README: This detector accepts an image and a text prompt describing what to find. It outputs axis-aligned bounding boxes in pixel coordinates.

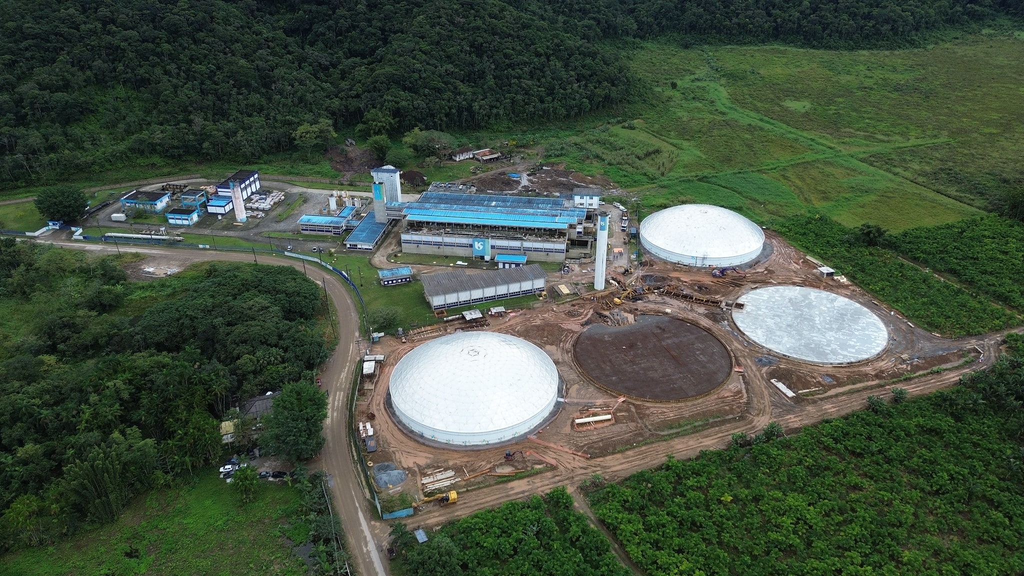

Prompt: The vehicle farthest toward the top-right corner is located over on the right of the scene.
[713,263,747,277]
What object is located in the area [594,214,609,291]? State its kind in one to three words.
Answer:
water tower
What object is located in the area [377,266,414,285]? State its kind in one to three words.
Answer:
shed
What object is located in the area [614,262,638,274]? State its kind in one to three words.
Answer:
vehicle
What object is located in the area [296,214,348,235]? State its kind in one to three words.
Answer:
building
